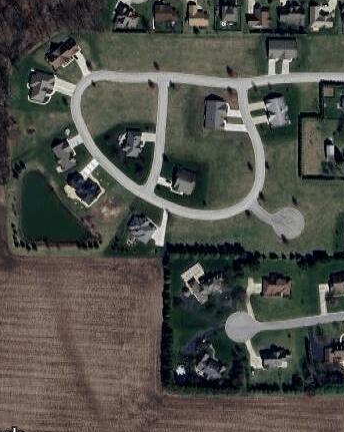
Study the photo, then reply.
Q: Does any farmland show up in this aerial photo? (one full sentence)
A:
Yes, there's farmland in this view.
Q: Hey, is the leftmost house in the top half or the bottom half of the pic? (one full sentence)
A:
The top half of the photo is where the leftmost house is.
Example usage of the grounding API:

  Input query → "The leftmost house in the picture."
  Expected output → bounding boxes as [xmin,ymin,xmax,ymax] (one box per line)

[26,75,54,101]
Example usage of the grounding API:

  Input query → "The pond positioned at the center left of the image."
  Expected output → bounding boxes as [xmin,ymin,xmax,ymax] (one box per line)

[21,172,93,242]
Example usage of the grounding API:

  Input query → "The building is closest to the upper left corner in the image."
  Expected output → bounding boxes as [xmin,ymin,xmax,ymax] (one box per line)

[44,37,78,67]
